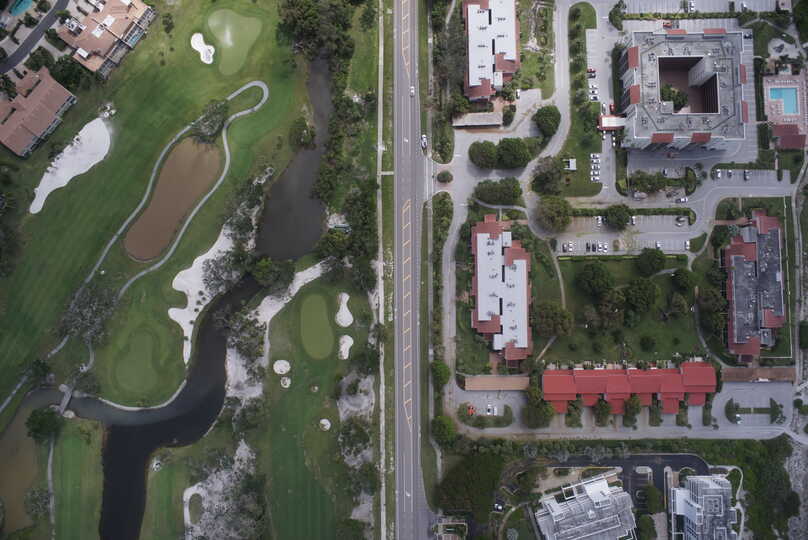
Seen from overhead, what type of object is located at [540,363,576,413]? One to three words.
house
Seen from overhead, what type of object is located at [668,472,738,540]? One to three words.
building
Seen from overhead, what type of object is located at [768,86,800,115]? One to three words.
swimming pool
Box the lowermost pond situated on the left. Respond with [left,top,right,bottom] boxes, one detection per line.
[125,138,221,261]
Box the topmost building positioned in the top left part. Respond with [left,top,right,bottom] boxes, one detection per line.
[54,0,156,79]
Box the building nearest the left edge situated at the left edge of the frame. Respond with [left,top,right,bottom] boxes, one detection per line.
[0,54,80,162]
